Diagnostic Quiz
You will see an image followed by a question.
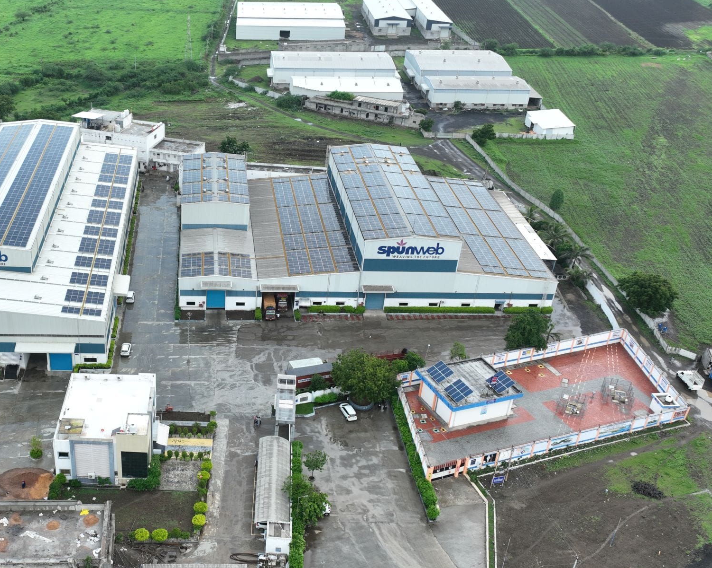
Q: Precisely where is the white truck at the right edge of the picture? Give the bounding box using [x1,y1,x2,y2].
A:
[682,371,709,393]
